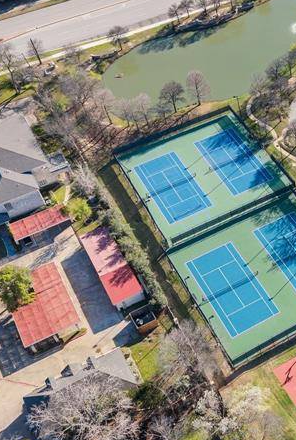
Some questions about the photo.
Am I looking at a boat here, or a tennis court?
tennis court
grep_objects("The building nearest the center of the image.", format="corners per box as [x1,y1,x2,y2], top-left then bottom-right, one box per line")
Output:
[81,226,147,316]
